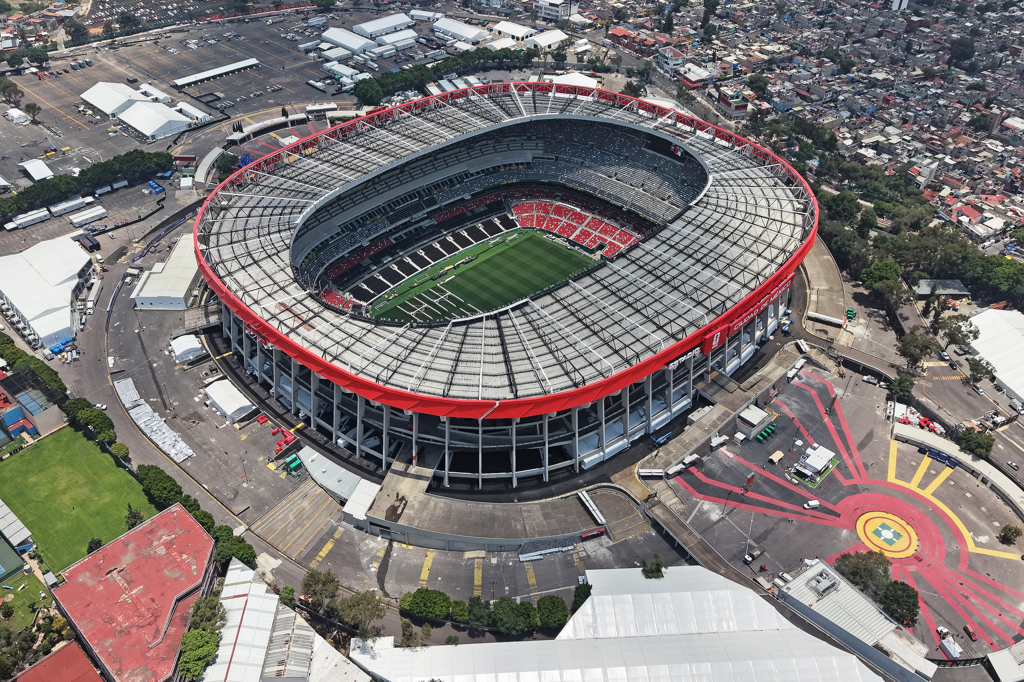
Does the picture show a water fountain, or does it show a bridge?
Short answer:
bridge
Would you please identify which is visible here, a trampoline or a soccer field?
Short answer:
soccer field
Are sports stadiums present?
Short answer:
Yes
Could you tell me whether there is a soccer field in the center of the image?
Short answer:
Yes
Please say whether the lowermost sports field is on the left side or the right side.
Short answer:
left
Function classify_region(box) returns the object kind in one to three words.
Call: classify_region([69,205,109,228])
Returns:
building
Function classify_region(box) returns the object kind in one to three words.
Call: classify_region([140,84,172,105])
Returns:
tent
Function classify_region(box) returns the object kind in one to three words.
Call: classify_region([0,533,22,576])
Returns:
tennis court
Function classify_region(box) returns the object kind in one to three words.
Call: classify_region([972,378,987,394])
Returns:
vehicle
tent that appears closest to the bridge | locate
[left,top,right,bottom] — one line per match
[173,341,203,368]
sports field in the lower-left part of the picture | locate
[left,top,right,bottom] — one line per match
[0,424,170,574]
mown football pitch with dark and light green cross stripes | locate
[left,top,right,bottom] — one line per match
[379,233,595,325]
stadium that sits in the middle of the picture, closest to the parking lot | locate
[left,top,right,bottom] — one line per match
[193,81,816,490]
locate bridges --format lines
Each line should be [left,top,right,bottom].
[184,299,223,332]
